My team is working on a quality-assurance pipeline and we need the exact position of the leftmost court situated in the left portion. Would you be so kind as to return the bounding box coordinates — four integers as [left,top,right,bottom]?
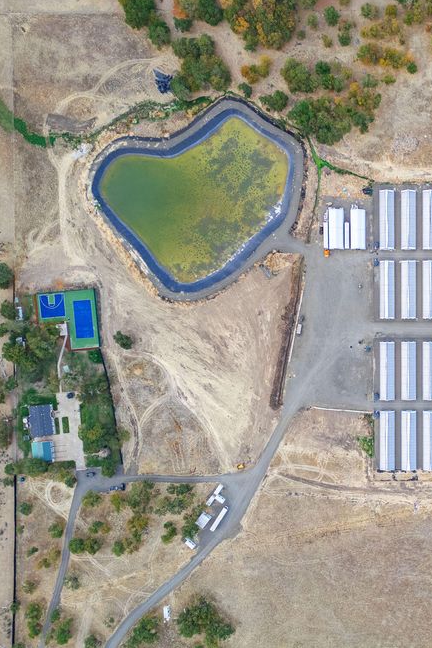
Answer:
[37,291,69,324]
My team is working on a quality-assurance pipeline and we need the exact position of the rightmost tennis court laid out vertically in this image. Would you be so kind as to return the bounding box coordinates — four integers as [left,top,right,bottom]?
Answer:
[66,290,96,350]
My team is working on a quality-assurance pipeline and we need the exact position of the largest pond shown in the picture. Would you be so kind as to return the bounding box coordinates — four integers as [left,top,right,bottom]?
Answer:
[90,96,306,293]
